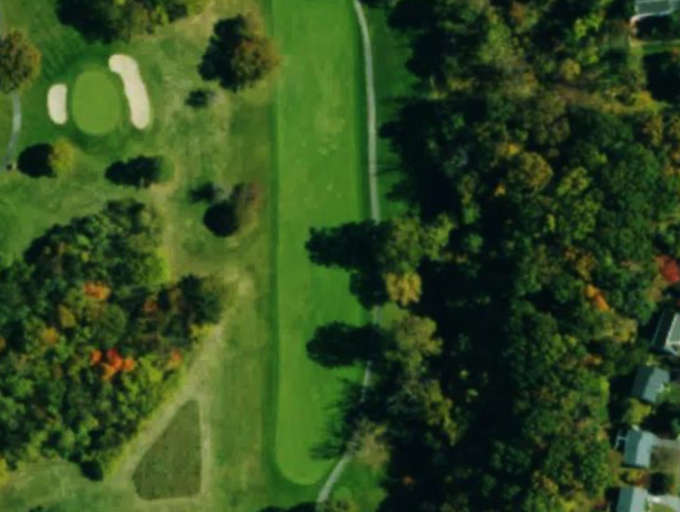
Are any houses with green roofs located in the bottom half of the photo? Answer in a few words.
Yes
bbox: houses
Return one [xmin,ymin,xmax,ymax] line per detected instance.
[617,485,651,512]
[635,0,680,17]
[615,429,657,469]
[631,363,672,404]
[652,310,680,352]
